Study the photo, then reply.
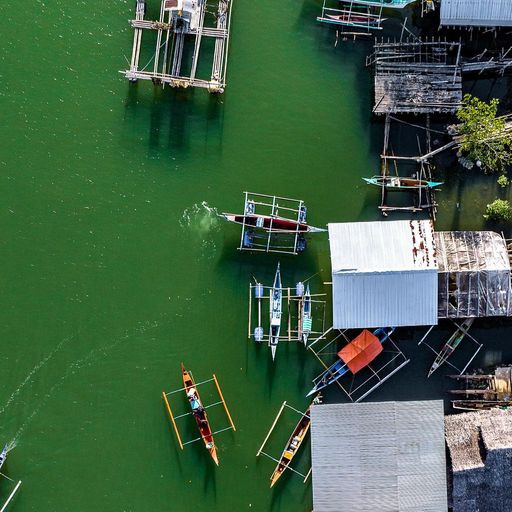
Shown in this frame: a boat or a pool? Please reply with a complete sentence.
This aerial view contains a boat.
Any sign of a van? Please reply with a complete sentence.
No, there isn't any van down there.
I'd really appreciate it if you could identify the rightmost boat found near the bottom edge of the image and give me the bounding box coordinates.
[257,392,322,488]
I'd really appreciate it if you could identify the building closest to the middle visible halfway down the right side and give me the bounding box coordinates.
[324,220,439,333]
